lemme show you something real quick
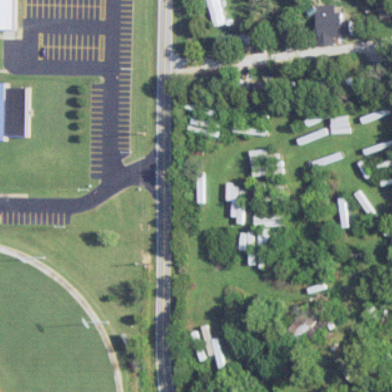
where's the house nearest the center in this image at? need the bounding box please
[196,172,208,204]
